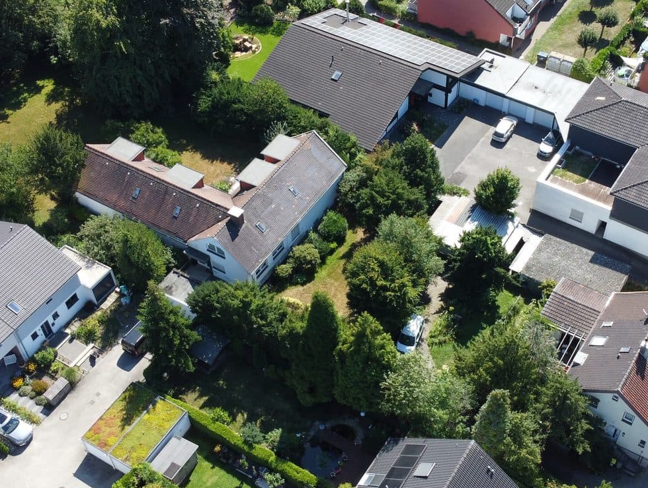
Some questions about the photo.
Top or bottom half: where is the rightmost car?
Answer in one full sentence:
The rightmost car is in the top half of the image.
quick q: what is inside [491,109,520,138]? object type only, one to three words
car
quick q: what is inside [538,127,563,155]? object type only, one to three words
car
